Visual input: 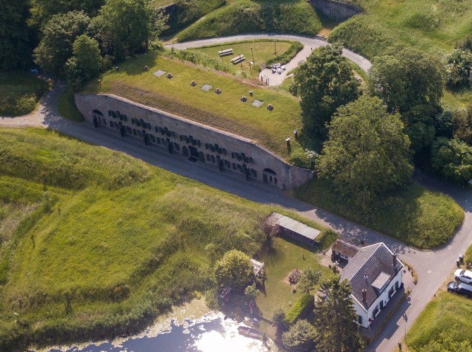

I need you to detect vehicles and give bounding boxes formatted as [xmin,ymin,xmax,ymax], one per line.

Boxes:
[453,267,472,285]
[448,282,472,301]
